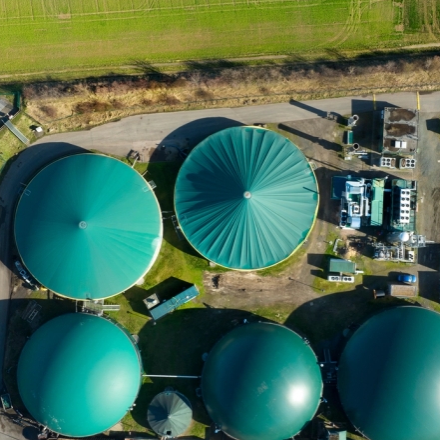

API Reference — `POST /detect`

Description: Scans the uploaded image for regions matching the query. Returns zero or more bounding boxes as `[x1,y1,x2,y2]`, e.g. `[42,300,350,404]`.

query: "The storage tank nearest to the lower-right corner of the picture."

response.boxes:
[334,302,440,440]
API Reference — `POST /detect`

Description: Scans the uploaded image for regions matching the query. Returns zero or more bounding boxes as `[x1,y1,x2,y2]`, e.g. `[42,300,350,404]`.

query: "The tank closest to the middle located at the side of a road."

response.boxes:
[171,126,319,270]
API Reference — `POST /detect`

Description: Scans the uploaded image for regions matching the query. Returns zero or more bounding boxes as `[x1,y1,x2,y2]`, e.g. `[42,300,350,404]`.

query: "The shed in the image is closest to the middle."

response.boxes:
[150,284,202,319]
